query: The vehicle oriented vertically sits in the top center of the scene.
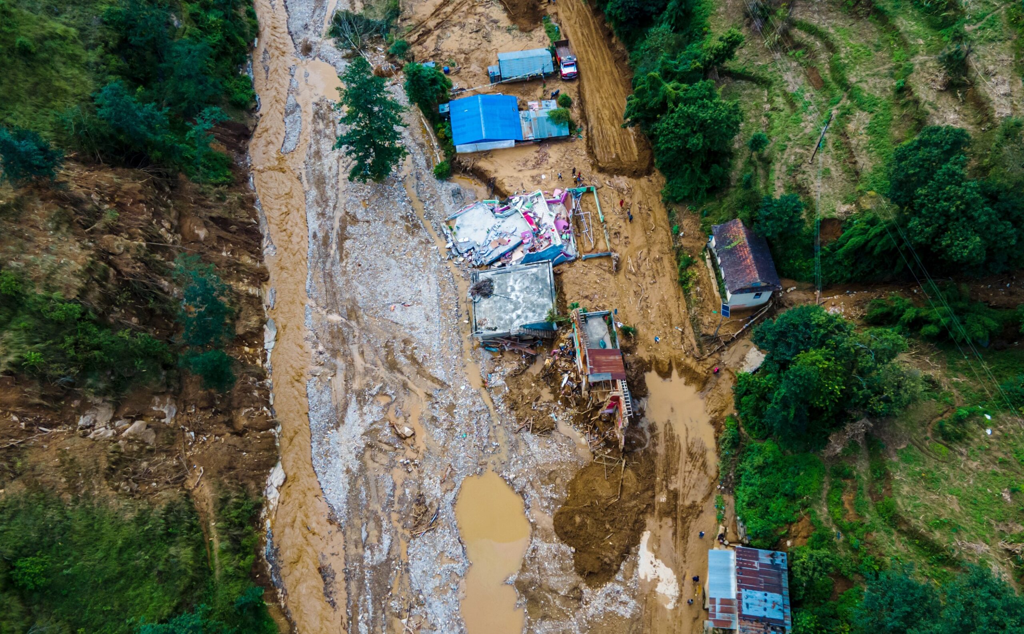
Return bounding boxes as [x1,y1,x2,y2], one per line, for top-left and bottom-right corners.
[555,34,579,80]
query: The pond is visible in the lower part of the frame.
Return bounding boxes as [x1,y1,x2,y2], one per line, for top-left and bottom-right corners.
[452,467,534,634]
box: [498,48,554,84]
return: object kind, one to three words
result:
shed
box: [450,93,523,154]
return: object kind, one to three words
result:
house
